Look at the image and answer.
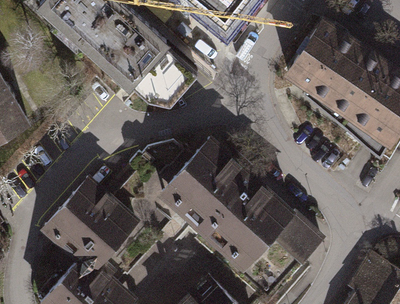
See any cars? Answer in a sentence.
Yes, looking at the shot, I can spot a car.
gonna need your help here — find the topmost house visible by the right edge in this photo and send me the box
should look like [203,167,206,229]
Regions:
[284,17,400,150]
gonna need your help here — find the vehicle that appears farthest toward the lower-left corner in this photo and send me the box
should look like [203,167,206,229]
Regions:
[9,176,28,198]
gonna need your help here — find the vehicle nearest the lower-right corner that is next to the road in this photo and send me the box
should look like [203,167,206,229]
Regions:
[360,162,378,188]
